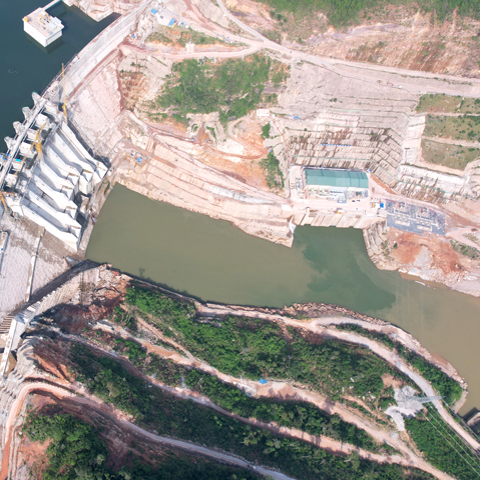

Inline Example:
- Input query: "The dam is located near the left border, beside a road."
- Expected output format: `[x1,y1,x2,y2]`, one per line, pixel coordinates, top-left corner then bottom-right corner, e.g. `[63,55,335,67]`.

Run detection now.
[0,0,157,376]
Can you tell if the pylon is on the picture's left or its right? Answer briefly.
right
